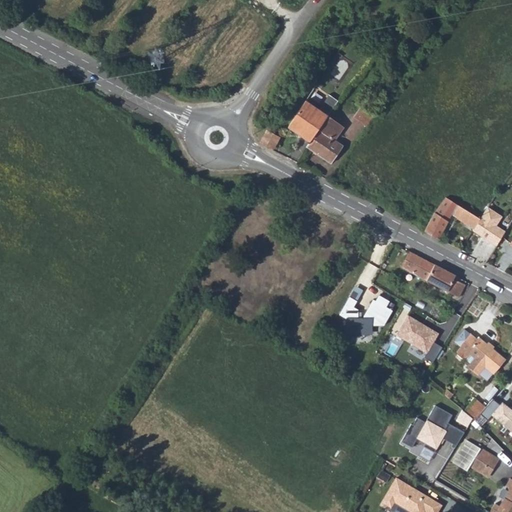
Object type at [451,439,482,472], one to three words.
greenhouse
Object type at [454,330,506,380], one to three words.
house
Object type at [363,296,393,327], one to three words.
house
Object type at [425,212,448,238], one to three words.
barn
